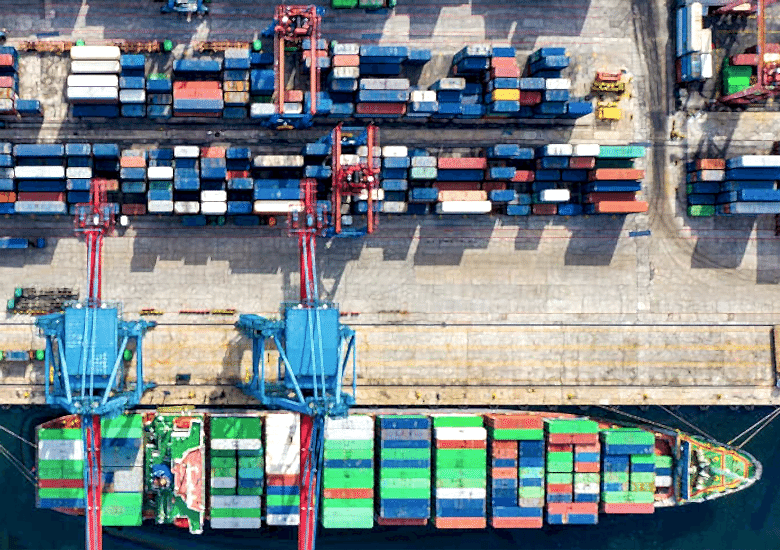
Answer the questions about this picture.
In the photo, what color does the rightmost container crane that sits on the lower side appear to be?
blue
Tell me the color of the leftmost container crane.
blue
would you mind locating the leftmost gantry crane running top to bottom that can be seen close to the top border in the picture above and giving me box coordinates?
[267,0,320,130]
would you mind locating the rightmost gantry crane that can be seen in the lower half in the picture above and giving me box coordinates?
[235,172,360,550]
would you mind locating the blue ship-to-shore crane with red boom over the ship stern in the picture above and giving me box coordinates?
[42,172,163,550]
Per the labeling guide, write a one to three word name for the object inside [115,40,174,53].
vehicle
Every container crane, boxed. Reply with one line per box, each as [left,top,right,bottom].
[267,0,320,130]
[42,172,163,550]
[712,0,780,113]
[235,172,360,550]
[320,119,377,241]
